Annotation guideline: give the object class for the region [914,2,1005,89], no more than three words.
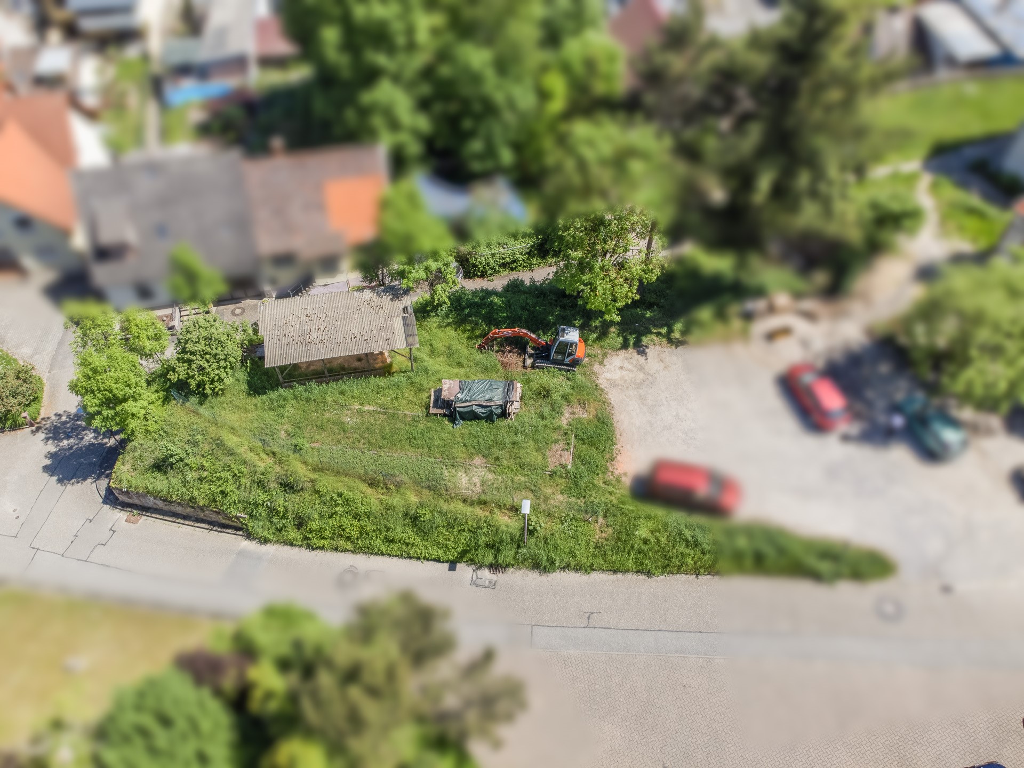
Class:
building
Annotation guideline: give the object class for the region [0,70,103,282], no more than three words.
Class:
house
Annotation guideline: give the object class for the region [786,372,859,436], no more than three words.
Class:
car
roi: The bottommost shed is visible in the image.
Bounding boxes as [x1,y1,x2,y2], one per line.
[260,286,421,386]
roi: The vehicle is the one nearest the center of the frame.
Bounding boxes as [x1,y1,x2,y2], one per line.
[474,320,585,372]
